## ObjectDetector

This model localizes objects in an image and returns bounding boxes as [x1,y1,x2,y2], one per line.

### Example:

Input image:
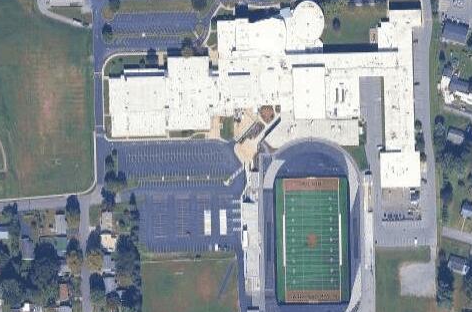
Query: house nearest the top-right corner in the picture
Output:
[443,21,470,42]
